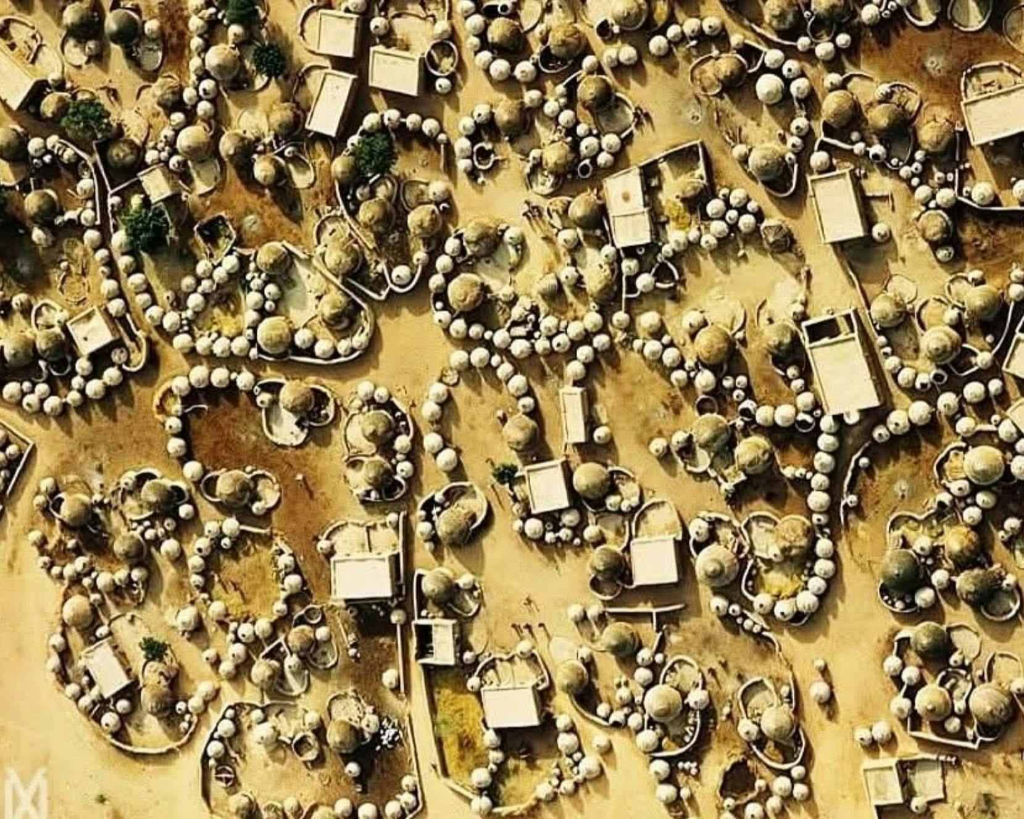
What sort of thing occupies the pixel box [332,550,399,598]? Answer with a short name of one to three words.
house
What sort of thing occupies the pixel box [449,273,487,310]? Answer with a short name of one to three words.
shed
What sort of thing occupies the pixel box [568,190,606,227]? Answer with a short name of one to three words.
shed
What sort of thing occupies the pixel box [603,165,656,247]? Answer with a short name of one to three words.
house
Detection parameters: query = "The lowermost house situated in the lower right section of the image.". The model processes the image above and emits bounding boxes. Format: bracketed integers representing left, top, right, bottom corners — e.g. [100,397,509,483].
[863,754,905,804]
